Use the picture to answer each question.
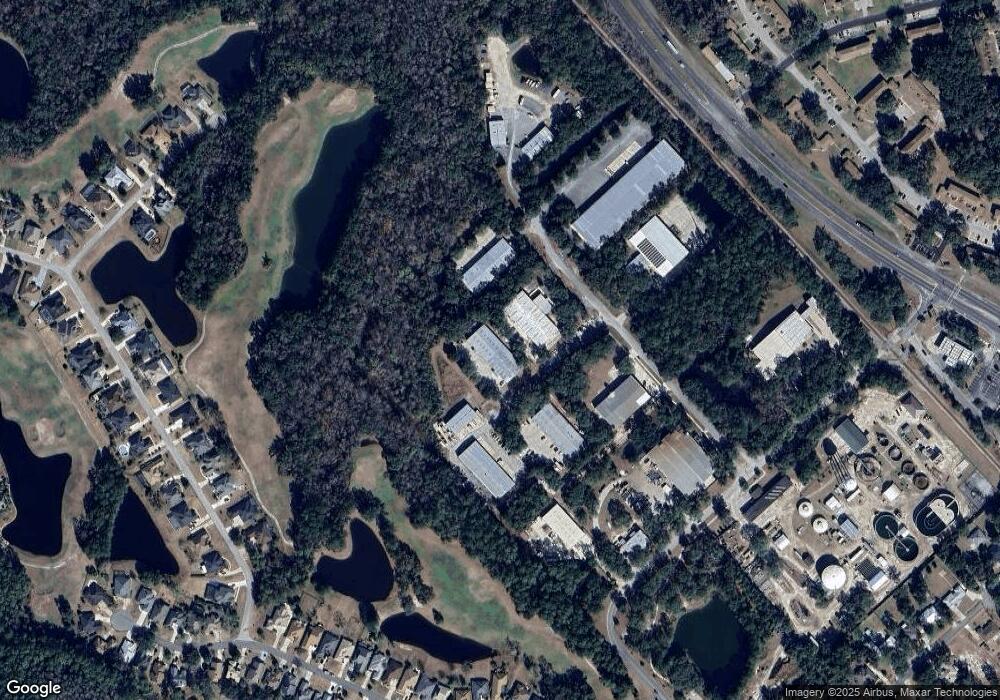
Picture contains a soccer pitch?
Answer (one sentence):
No, I can't see a single soccer pitch in this photo.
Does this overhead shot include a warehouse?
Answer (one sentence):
Yes, looking at the shot, I can spot a warehouse.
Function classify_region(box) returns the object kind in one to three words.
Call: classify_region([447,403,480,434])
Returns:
building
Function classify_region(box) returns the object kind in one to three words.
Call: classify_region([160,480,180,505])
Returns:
house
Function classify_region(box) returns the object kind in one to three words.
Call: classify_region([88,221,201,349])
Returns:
pond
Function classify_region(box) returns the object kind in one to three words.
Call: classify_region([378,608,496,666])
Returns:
pond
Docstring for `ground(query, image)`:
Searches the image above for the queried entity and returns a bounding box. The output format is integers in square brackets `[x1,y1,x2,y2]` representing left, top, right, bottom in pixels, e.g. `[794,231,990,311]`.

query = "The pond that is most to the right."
[664,595,753,696]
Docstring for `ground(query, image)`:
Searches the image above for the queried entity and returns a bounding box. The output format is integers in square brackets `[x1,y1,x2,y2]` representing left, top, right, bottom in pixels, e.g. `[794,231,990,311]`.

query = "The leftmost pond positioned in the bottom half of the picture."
[0,401,74,558]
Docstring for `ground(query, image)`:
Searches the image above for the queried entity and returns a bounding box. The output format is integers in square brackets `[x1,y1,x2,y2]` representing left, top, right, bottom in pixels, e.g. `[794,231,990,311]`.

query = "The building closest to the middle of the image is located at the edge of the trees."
[467,326,520,383]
